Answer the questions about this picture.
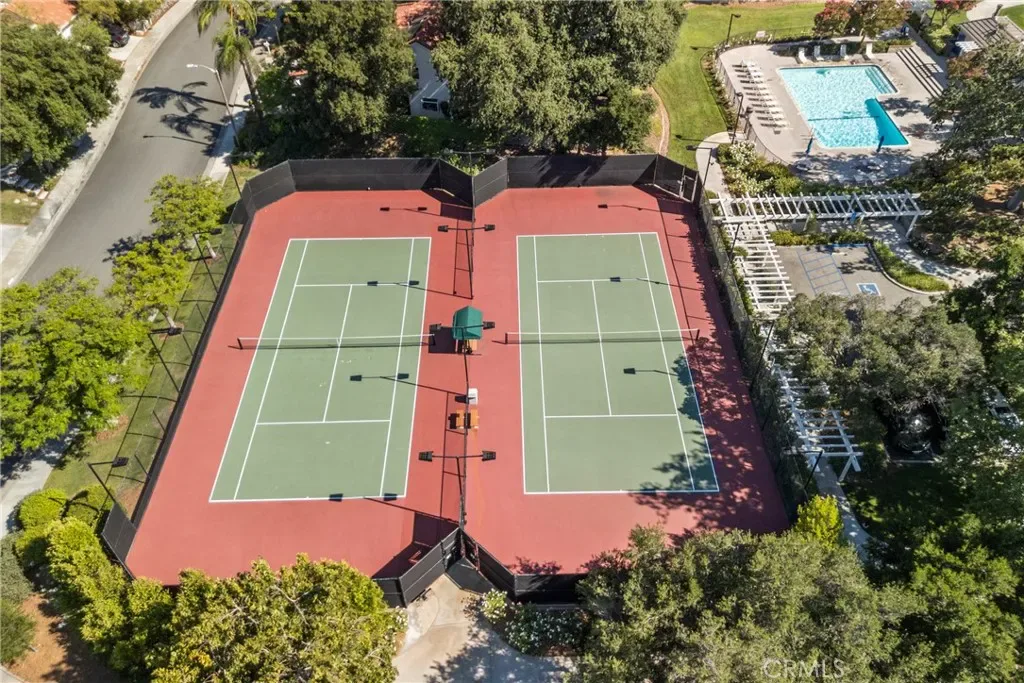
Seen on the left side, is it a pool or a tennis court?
tennis court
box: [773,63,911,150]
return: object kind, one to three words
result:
swimming pool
